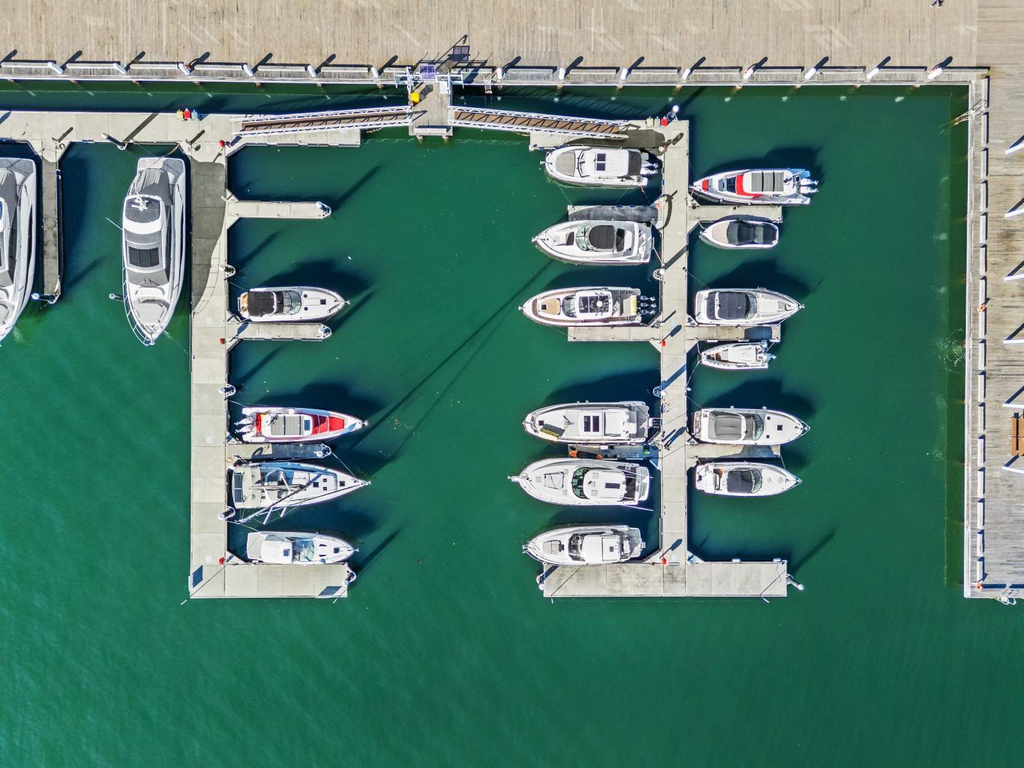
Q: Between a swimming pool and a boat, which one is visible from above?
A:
boat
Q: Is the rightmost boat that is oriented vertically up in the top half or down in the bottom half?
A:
top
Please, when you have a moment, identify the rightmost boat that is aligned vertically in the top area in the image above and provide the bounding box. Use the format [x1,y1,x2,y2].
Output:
[106,158,190,343]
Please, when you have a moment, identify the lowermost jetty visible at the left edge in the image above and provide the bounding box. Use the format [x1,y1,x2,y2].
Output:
[0,111,361,598]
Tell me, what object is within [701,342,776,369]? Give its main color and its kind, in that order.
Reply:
white boat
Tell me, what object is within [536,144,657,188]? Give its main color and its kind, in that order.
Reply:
white boat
